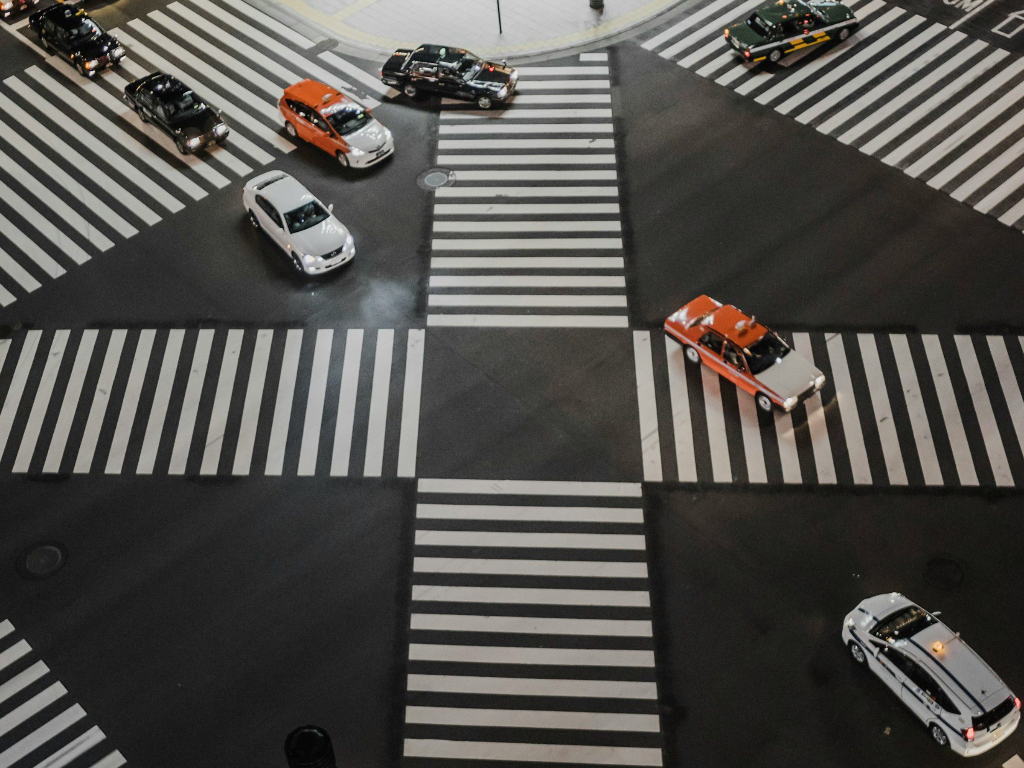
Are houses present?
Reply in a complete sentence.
No, the frame has no house in it.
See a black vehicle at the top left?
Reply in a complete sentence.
Yes, a black vehicle appears at the top left.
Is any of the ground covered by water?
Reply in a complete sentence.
No, the scene doesn't show any water.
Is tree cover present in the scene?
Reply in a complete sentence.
No, the picture contains no tree cover.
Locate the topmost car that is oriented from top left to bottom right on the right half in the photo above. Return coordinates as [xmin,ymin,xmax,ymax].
[666,299,824,416]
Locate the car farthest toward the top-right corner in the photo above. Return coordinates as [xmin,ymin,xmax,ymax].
[727,0,858,64]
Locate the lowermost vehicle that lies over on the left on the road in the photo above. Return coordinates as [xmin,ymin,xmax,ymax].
[241,171,354,275]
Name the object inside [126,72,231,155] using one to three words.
car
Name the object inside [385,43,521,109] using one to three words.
car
